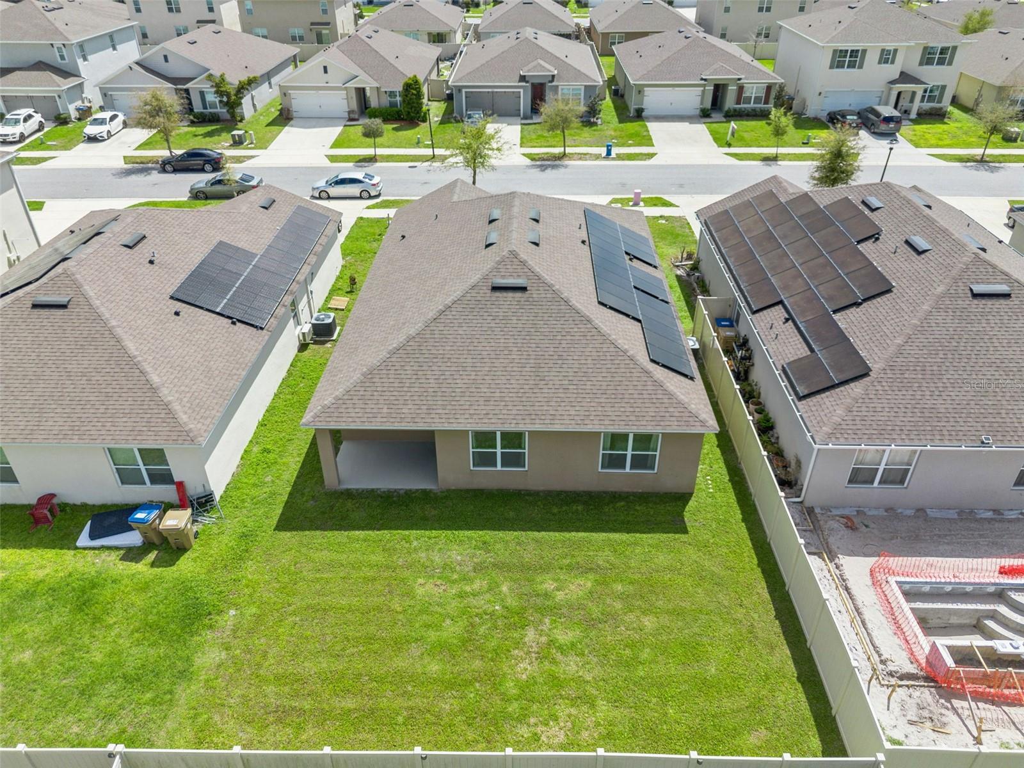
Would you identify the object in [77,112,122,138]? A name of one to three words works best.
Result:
car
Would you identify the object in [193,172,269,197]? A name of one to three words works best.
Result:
car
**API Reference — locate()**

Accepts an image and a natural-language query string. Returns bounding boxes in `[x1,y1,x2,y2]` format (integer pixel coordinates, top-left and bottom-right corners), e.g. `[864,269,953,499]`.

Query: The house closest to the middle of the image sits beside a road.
[300,179,720,493]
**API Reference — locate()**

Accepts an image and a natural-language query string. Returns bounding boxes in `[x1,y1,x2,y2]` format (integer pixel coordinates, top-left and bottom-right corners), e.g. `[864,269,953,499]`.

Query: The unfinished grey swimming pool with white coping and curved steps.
[880,571,1024,640]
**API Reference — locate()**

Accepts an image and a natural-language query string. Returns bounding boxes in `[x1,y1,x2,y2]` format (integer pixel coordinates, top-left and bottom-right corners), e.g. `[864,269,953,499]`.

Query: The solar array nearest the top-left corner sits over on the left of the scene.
[0,213,121,299]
